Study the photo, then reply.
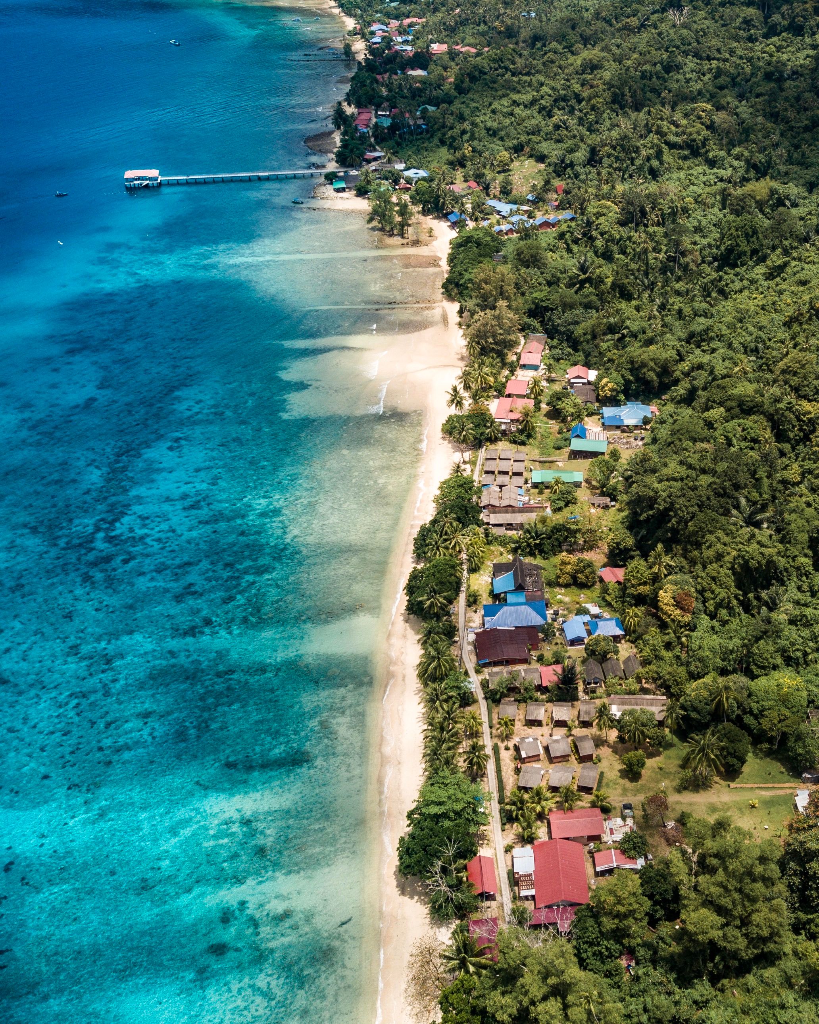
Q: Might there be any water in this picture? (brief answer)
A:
Yes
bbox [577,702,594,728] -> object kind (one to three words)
house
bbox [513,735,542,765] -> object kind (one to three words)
house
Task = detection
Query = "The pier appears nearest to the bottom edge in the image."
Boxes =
[160,168,334,185]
